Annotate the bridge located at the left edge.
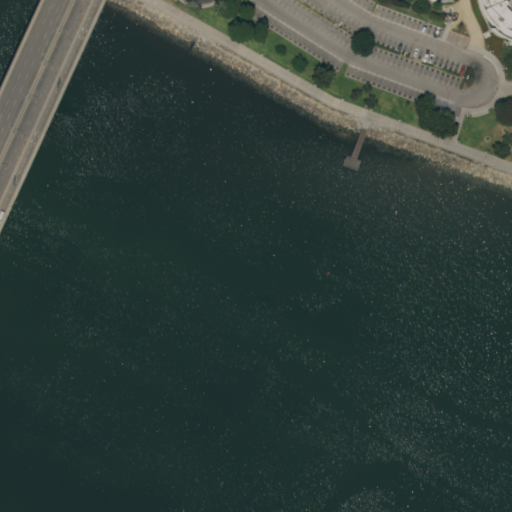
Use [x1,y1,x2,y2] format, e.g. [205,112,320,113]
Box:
[0,0,106,234]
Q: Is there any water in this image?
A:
Yes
